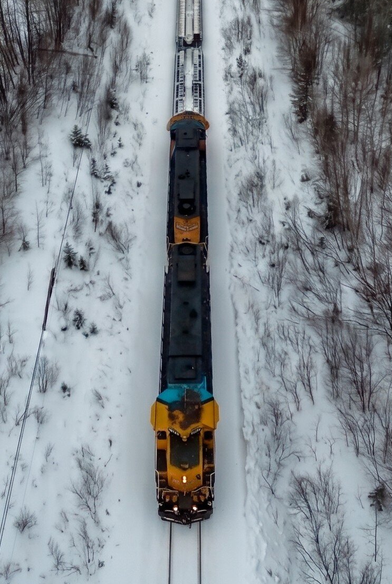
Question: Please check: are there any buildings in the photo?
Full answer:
No, I can't see a single building in this photo.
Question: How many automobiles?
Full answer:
I count no automobiles.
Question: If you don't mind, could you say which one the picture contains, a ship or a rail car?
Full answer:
Visible in the photo is a rail car.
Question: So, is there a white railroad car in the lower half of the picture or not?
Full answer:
No, no white railroad car appears in the lower half of the picture.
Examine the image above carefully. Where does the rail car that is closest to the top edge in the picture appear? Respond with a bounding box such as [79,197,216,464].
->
[175,0,203,45]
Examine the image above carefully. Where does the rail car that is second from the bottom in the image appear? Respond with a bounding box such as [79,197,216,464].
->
[166,118,210,268]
